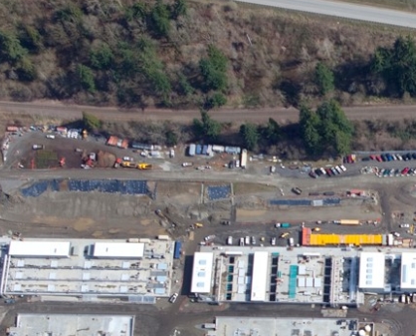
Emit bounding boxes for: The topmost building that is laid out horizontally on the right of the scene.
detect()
[189,248,416,305]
